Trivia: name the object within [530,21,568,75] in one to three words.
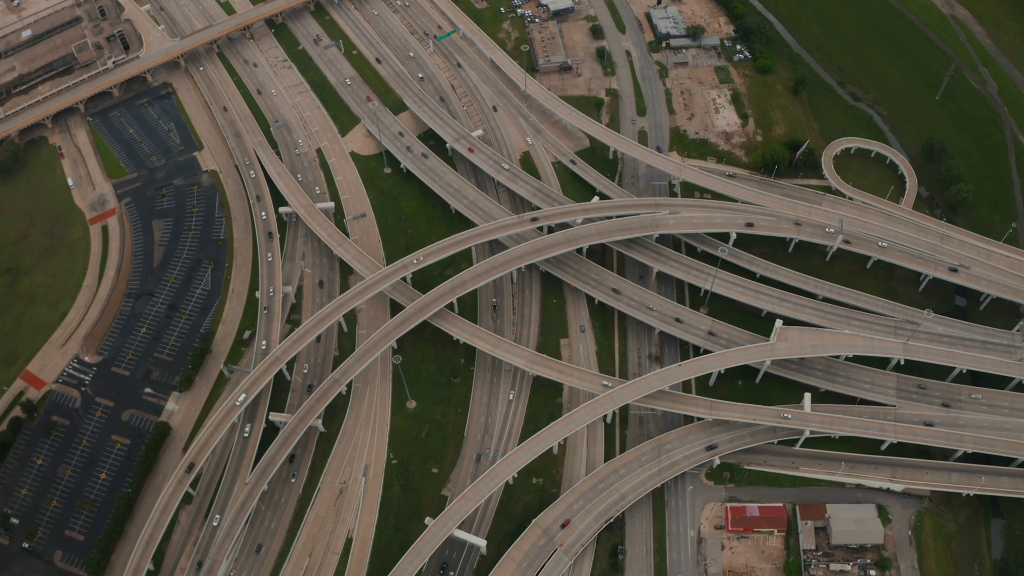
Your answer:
building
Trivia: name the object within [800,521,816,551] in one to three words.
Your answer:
shed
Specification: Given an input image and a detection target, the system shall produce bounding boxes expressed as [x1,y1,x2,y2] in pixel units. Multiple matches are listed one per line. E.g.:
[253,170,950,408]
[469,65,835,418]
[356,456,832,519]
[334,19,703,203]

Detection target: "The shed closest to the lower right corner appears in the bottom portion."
[825,504,883,547]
